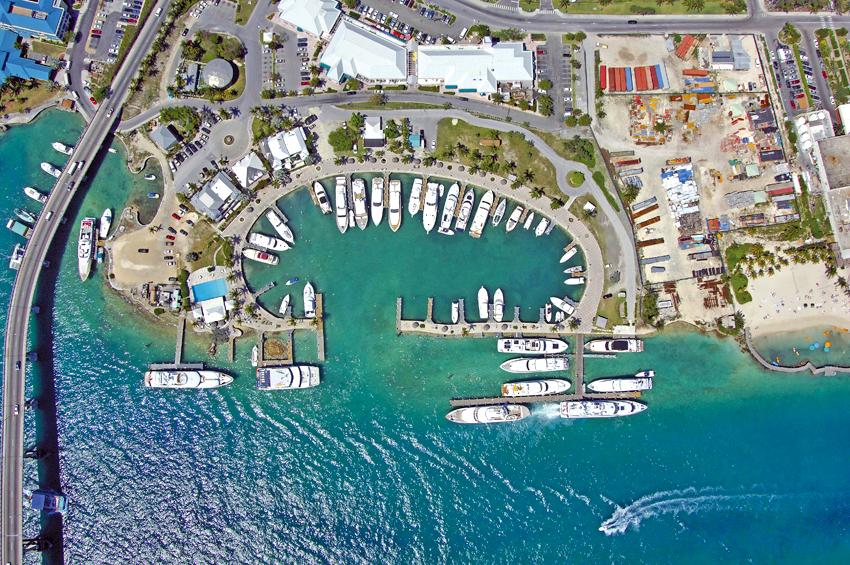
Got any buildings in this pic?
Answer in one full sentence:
Yes, the frame does contain a building.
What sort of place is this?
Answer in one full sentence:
The area seen from above is a port.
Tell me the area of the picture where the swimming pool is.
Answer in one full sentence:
You can find the swimming pool in the left area of the picture.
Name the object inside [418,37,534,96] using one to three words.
building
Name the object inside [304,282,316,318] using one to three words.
boat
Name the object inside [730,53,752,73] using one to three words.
shed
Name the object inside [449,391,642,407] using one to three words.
pier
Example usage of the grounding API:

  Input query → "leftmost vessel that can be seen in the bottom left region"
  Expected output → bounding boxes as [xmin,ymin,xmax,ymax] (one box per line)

[29,494,70,512]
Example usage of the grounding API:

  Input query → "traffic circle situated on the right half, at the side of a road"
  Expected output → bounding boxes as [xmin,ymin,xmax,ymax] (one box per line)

[556,158,597,199]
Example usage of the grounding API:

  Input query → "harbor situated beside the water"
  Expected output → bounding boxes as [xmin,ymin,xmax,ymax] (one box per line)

[214,151,603,335]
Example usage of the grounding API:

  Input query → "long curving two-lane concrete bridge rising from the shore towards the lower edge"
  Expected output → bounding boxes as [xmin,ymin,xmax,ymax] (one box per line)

[2,0,173,565]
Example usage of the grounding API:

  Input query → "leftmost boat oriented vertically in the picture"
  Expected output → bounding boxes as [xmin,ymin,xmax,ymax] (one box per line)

[9,244,25,270]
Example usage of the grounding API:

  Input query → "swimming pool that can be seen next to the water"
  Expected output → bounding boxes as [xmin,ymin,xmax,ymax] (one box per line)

[188,265,232,328]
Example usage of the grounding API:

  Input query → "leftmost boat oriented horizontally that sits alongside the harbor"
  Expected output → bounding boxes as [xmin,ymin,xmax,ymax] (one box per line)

[144,370,232,388]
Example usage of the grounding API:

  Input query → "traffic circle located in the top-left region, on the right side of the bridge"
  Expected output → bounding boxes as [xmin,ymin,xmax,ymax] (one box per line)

[206,117,252,163]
